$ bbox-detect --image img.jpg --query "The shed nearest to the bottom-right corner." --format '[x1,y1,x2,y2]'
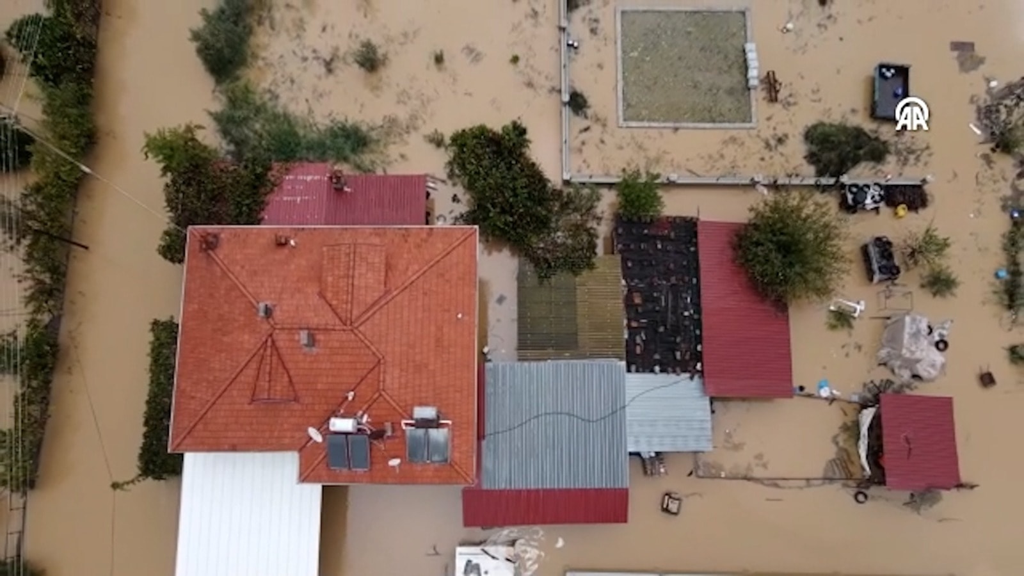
[861,394,961,490]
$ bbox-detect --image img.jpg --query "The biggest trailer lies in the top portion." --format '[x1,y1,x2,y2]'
[867,63,914,126]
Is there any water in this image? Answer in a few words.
Yes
